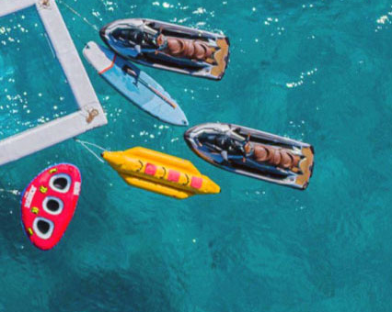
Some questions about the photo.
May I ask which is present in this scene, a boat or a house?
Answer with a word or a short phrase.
boat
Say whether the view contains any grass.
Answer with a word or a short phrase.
No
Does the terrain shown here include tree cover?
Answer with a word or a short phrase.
No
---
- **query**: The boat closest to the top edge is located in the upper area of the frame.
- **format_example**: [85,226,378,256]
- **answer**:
[97,20,226,79]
